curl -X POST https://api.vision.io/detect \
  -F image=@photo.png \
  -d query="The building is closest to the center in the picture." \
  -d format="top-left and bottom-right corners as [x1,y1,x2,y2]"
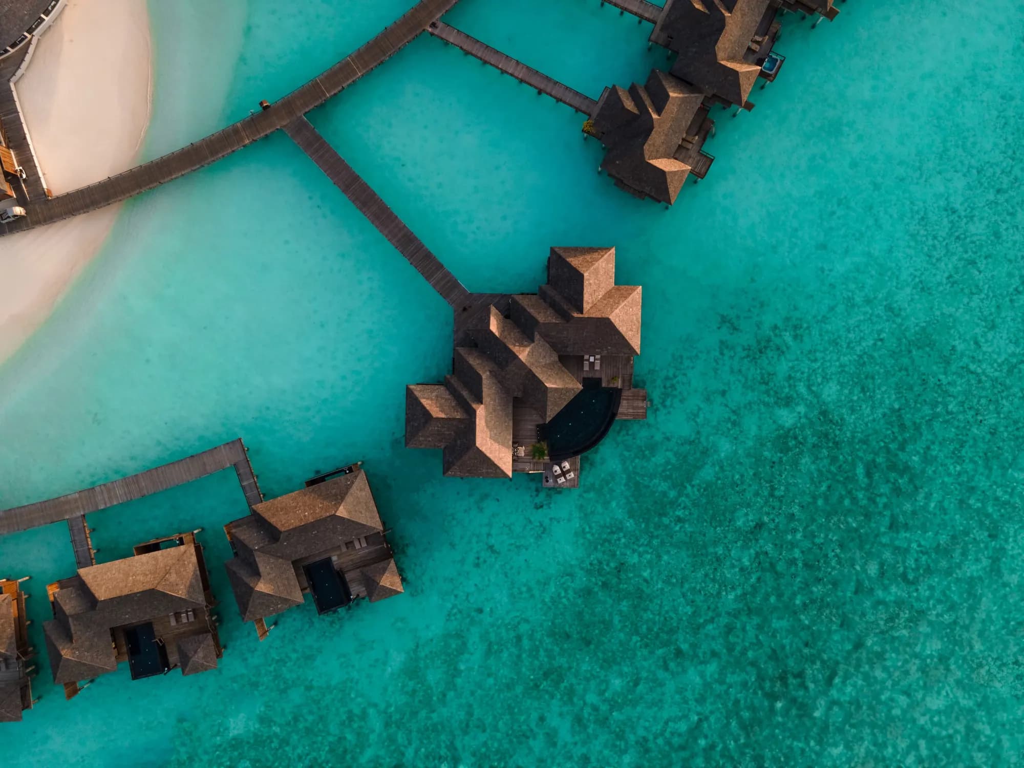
[405,245,649,488]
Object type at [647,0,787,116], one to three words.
house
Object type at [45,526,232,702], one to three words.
house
